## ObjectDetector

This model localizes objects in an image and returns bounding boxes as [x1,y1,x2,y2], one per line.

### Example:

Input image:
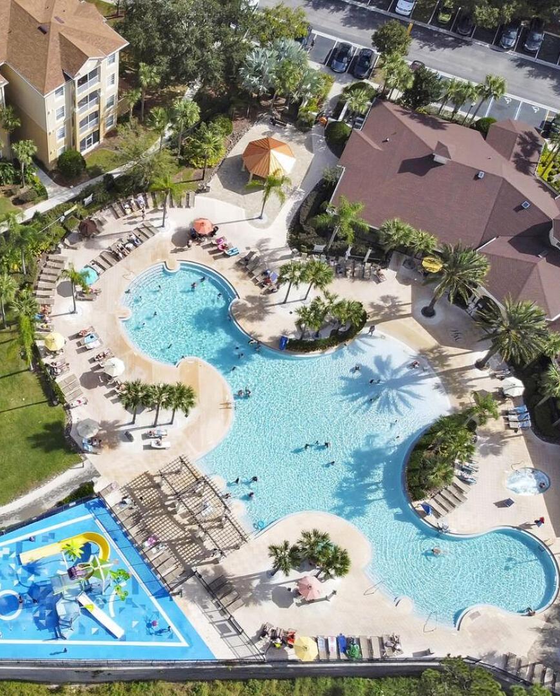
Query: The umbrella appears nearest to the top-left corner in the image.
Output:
[75,218,99,241]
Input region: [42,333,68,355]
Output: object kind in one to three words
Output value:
umbrella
